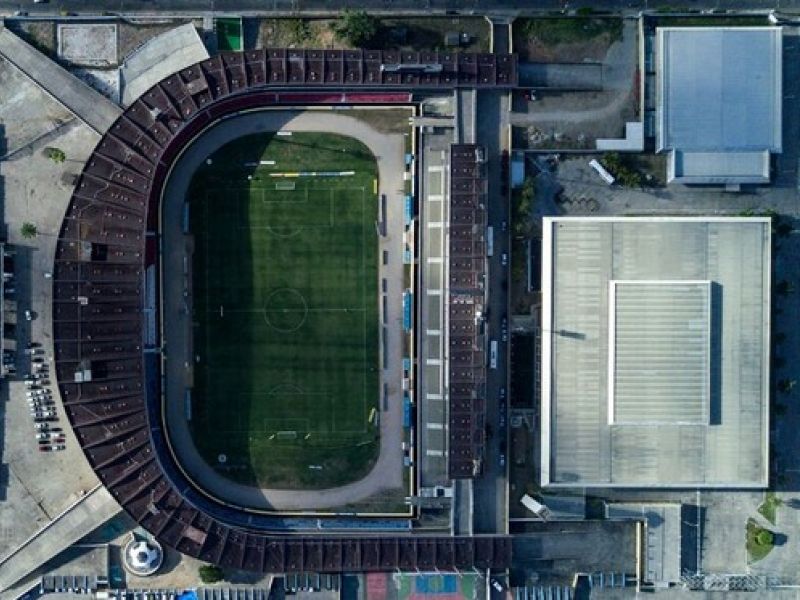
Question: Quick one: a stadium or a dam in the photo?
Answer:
stadium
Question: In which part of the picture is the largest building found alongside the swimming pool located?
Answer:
right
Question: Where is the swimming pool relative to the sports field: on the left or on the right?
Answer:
to its right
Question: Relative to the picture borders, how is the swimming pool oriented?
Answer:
vertically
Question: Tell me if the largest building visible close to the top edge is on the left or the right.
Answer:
right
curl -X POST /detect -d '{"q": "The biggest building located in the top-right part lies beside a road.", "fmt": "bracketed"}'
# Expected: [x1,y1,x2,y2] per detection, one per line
[647,27,782,192]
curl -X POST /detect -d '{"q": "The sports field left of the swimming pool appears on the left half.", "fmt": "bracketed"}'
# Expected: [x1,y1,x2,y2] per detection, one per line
[192,131,380,490]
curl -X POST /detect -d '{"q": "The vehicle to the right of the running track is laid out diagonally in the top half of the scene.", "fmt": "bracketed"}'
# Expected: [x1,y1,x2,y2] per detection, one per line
[590,158,616,183]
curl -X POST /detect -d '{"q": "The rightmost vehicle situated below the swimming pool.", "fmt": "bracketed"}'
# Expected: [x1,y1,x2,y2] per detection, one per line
[523,495,549,519]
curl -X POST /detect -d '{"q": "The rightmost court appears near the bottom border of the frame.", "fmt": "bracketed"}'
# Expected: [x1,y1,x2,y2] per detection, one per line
[393,571,484,600]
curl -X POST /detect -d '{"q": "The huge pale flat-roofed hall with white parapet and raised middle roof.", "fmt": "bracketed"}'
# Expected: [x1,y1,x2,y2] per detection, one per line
[541,216,772,489]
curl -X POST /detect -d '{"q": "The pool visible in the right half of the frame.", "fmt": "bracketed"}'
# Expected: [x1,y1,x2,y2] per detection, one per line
[510,330,540,411]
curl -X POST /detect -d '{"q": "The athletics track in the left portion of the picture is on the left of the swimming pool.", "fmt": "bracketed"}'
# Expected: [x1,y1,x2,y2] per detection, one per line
[163,109,405,511]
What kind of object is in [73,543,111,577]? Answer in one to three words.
shed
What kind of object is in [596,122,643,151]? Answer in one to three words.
shed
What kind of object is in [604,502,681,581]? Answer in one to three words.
building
